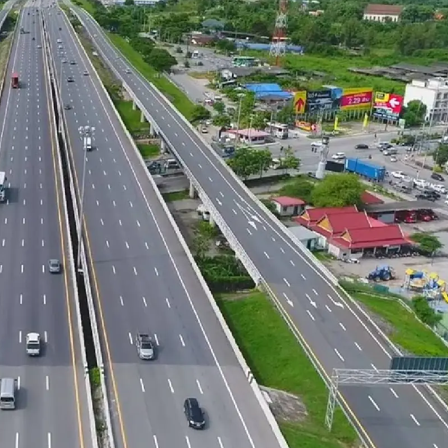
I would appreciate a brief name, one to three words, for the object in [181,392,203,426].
car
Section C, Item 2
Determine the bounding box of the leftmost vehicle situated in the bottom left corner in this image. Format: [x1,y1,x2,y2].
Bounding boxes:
[0,377,18,406]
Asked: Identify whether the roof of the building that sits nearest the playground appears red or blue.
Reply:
red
